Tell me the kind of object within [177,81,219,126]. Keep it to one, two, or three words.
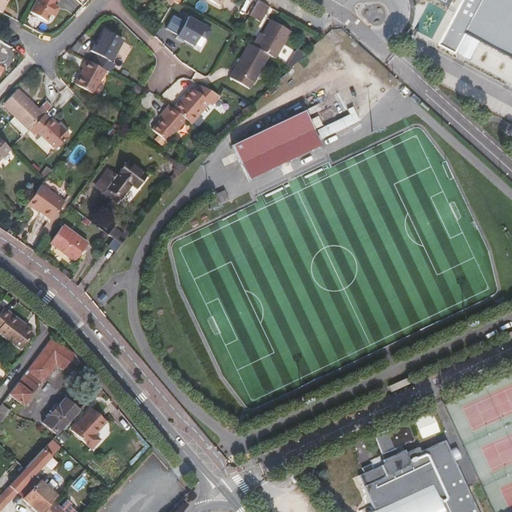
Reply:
house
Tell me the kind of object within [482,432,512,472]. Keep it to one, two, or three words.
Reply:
tennis court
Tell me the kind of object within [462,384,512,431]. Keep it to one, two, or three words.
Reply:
tennis court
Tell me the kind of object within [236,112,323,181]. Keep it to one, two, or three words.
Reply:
building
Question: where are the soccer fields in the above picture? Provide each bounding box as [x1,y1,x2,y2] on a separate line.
[172,126,497,406]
